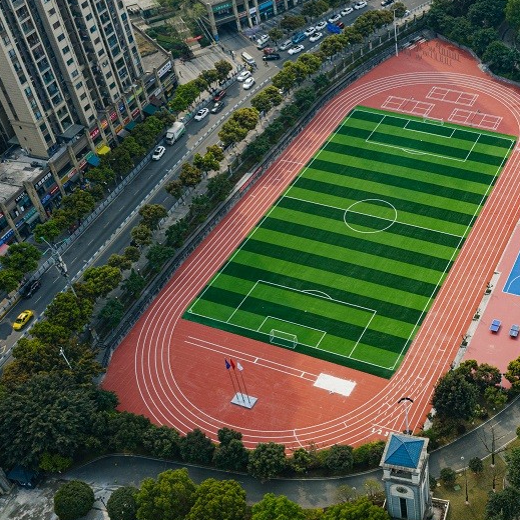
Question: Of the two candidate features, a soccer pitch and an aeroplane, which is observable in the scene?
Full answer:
The image shows a soccer pitch.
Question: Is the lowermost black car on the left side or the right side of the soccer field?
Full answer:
The lowermost black car is to the left of the soccer field.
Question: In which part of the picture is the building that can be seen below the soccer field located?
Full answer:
The building that can be seen below the soccer field is located in the bottom right region of the scene.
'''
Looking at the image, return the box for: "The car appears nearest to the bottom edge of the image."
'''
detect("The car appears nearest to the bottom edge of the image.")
[13,311,34,329]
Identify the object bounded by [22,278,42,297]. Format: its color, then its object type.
black car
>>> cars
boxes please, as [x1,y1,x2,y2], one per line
[212,100,225,110]
[264,53,280,61]
[336,21,346,28]
[289,45,303,54]
[196,108,210,119]
[13,311,34,329]
[280,39,293,49]
[214,89,228,101]
[328,14,340,22]
[22,278,42,297]
[401,9,412,17]
[292,29,307,42]
[306,26,317,35]
[238,68,252,80]
[341,7,353,15]
[355,1,367,9]
[315,20,328,29]
[241,50,254,63]
[242,78,255,88]
[152,147,166,159]
[309,32,323,41]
